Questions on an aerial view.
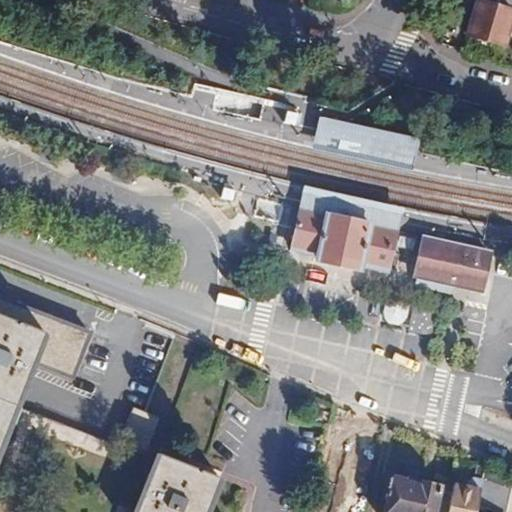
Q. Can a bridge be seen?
No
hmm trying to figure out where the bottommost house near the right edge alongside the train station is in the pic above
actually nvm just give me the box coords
[414,234,494,298]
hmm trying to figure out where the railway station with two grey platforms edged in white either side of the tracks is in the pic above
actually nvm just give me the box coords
[0,42,512,237]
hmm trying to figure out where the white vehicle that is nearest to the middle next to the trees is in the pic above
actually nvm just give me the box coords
[215,292,252,312]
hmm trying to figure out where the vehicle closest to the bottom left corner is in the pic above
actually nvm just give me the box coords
[72,378,94,392]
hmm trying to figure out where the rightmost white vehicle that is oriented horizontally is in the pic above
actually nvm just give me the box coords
[490,72,510,84]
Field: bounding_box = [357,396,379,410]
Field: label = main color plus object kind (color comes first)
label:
white car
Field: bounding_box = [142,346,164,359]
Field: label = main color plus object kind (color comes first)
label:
white vehicle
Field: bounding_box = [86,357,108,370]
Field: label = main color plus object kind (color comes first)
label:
white vehicle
